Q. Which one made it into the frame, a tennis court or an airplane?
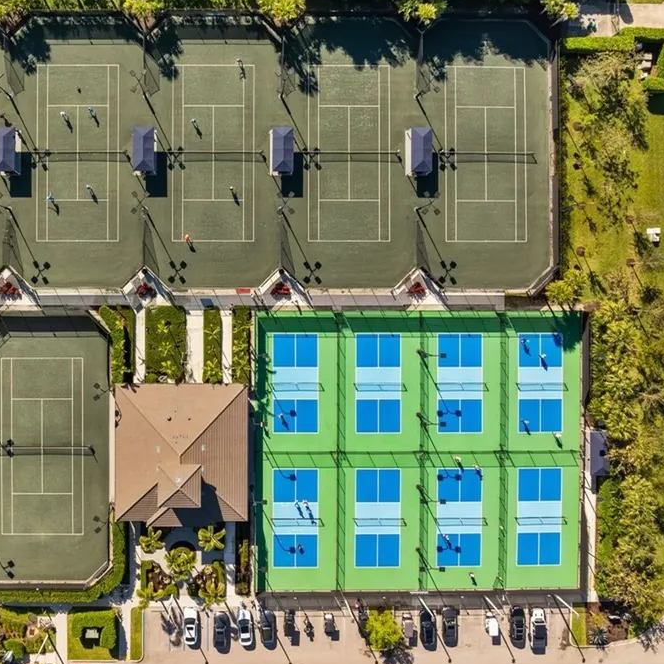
tennis court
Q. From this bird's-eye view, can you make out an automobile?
Yes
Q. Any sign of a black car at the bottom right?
Yes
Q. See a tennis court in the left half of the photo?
Yes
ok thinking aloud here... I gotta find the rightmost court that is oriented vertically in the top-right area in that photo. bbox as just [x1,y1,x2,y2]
[417,19,549,288]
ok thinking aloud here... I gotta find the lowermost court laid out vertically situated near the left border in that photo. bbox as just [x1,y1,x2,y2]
[0,312,110,583]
